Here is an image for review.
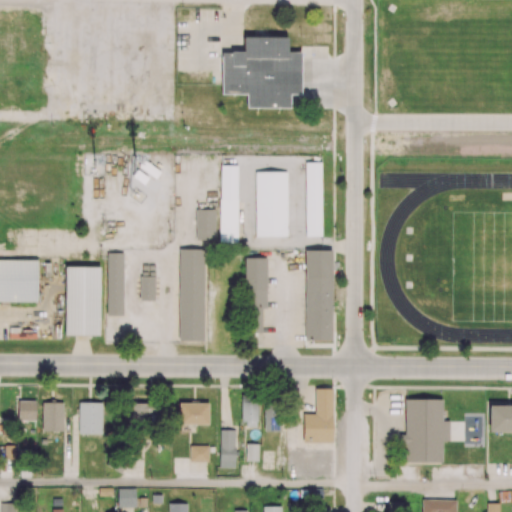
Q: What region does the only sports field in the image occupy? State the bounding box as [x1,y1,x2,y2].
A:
[453,212,512,322]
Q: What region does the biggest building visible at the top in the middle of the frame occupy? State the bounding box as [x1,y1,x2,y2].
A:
[223,36,303,108]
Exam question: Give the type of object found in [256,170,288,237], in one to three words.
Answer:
building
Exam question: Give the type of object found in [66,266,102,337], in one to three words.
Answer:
barn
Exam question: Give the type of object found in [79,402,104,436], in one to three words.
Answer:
house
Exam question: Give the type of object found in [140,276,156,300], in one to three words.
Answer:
shed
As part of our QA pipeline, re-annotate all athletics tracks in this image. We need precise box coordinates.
[381,174,512,342]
